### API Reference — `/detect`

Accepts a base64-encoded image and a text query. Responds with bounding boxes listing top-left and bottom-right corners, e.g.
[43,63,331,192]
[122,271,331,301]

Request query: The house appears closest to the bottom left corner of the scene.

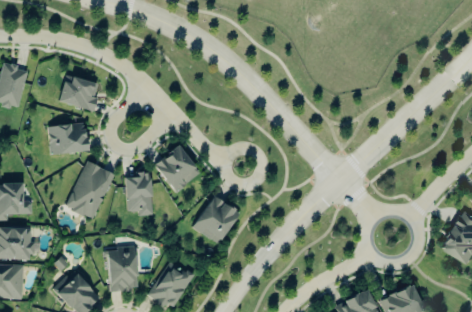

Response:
[0,264,23,299]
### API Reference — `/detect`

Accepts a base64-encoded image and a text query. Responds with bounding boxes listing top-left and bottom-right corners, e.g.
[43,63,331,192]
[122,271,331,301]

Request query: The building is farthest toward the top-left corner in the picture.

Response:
[0,62,28,110]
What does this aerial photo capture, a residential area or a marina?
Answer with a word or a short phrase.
residential area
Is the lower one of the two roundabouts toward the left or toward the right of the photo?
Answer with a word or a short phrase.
right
